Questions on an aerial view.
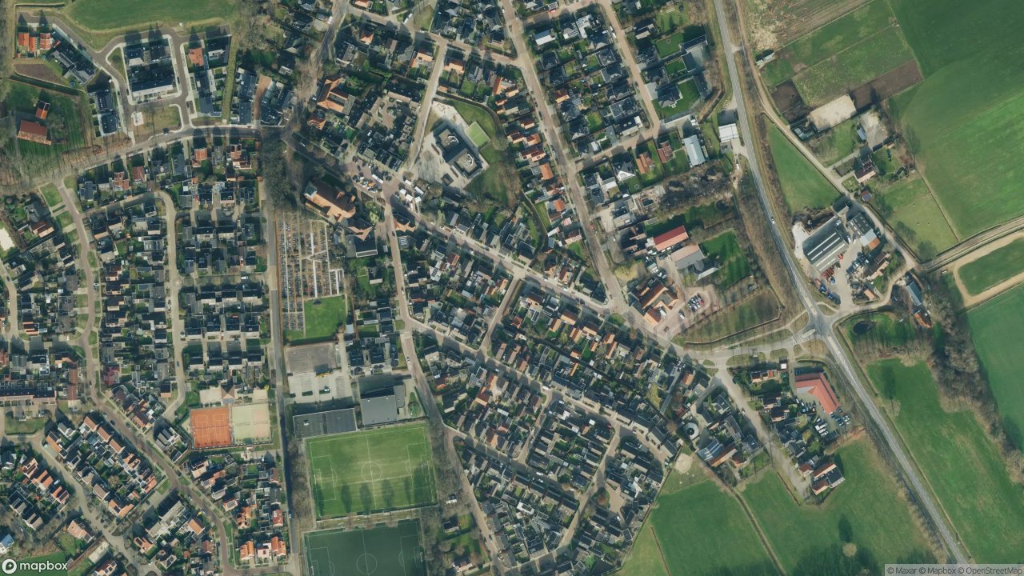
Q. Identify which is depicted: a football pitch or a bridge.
football pitch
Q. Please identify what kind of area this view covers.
residential area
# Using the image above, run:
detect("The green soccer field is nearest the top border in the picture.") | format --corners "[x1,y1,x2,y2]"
[305,423,437,521]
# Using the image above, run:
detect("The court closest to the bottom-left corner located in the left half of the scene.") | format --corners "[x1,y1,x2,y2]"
[191,407,231,448]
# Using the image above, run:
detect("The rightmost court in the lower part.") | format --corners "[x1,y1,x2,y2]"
[286,342,336,373]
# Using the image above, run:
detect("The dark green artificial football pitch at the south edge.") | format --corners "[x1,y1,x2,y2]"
[304,519,424,576]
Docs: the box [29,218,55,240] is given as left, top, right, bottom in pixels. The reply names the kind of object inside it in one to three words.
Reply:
house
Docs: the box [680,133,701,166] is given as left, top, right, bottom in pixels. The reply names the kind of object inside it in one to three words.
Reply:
barn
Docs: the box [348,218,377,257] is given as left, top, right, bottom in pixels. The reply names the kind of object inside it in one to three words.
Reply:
building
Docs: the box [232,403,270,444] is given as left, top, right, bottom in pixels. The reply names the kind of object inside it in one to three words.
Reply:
tennis court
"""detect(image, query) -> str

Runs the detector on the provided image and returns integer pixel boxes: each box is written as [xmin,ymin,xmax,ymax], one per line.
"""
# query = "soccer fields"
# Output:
[304,519,424,576]
[305,423,437,521]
